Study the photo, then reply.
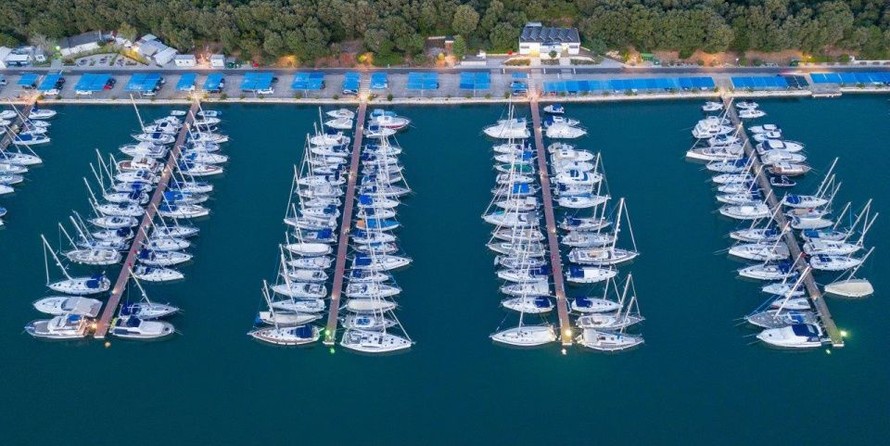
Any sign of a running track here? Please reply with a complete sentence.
No, this view has no running track in it.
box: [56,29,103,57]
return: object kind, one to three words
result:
building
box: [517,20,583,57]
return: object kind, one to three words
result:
building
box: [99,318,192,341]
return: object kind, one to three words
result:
boat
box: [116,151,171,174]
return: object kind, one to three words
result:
boat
